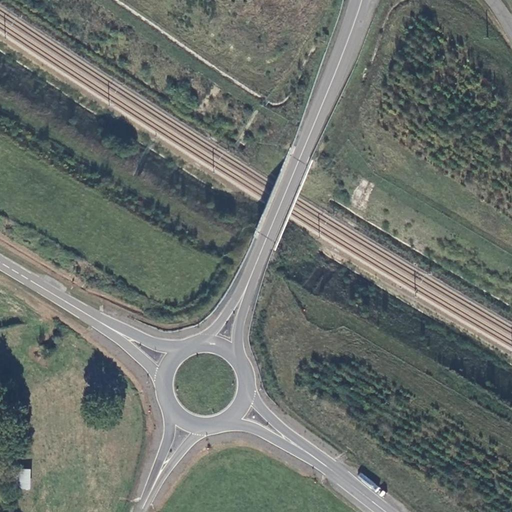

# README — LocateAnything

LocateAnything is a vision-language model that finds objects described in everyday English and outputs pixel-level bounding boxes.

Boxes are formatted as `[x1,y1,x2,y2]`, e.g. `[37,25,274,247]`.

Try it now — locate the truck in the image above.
[358,472,386,498]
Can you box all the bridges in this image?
[252,148,310,252]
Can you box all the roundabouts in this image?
[90,298,322,475]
